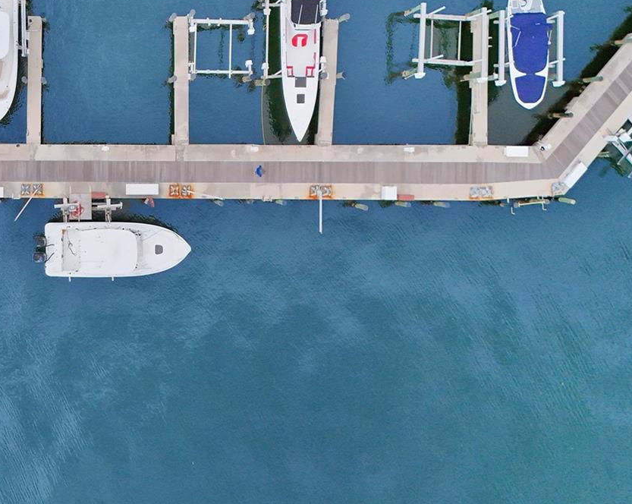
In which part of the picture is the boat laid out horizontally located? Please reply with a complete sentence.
The boat laid out horizontally is in the left part of the image.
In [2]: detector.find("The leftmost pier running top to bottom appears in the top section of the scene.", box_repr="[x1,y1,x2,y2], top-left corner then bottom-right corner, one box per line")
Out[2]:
[26,15,44,145]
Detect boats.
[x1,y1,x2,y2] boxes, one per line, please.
[280,0,321,142]
[504,0,553,110]
[0,0,19,119]
[33,222,192,277]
